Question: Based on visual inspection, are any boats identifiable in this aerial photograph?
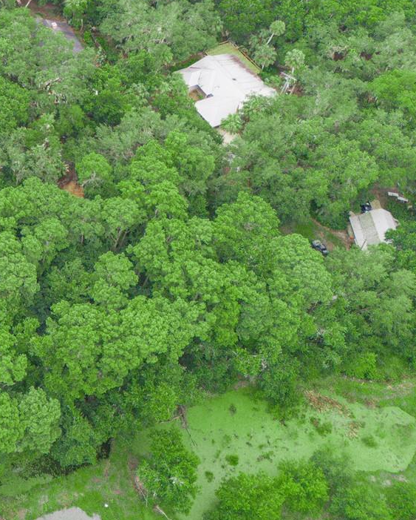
No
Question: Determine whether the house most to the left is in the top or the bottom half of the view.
top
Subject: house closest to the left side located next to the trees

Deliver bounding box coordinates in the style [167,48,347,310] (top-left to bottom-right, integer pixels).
[173,53,277,133]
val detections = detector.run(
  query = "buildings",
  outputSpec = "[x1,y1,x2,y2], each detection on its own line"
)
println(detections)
[173,53,277,133]
[343,208,398,258]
